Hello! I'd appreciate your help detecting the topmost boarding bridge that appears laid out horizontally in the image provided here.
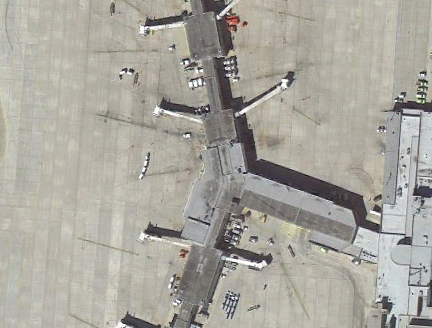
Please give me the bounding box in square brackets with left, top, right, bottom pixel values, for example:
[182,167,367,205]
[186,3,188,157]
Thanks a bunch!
[140,21,185,38]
